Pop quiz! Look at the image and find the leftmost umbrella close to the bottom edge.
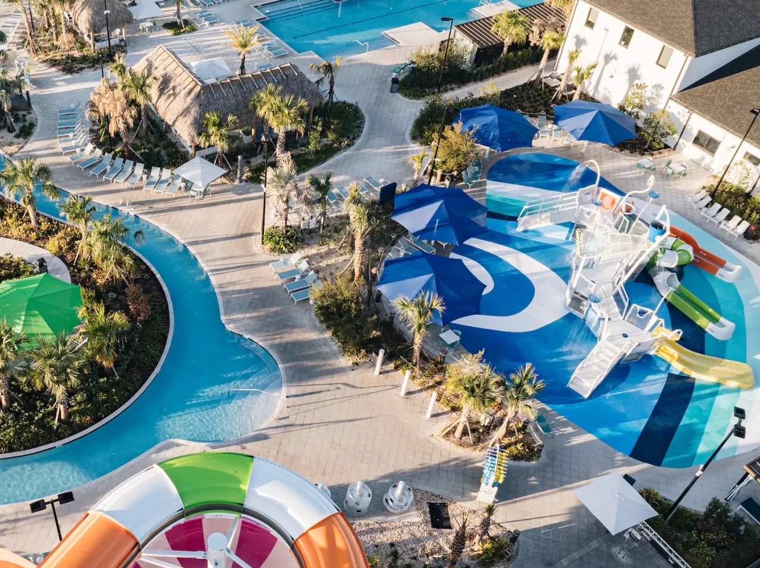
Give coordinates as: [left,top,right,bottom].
[570,471,657,547]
